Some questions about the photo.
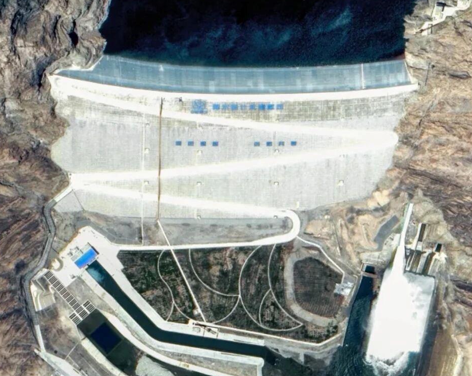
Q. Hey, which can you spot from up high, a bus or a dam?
dam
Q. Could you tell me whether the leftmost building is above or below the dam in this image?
below it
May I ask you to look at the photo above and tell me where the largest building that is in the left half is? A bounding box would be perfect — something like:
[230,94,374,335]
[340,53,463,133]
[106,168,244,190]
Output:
[72,244,100,270]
